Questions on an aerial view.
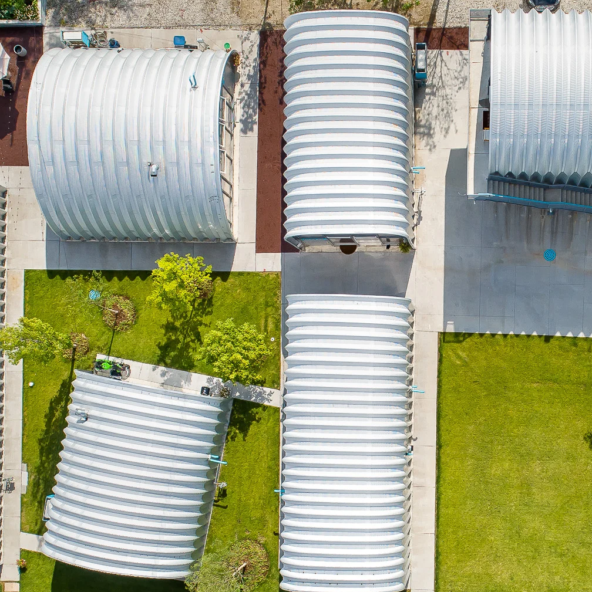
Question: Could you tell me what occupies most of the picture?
buildings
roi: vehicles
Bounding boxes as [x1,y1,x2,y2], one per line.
[92,361,129,378]
[527,0,559,8]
